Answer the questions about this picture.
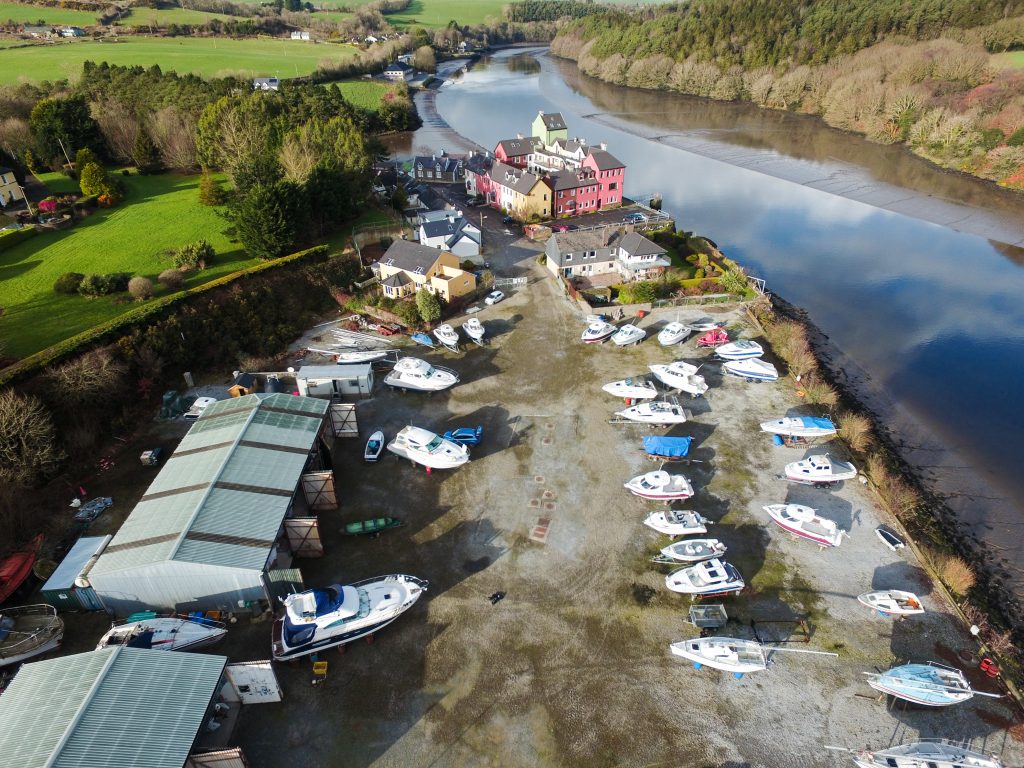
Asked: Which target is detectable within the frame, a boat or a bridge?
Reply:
boat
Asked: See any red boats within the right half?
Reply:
Yes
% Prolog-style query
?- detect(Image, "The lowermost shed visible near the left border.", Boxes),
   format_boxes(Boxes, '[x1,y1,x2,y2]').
[0,639,283,768]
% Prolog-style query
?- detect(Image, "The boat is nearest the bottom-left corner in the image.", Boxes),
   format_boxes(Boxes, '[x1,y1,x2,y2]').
[0,609,61,664]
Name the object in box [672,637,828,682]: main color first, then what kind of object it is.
white boat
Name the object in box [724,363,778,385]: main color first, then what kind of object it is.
white boat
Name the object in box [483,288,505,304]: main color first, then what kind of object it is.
white car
